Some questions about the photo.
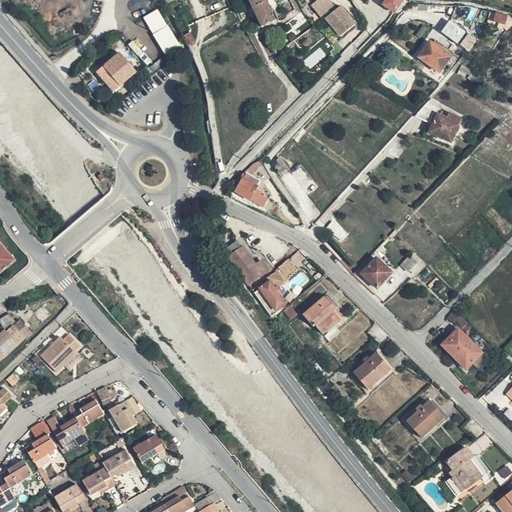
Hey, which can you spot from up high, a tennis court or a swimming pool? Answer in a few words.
swimming pool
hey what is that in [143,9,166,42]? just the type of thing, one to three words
building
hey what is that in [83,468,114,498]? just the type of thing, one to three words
house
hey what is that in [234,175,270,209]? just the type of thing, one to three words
house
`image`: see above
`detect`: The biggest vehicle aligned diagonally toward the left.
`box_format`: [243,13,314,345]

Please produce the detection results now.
[129,40,150,64]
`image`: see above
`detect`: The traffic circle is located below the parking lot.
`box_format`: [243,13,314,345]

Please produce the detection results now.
[134,154,172,191]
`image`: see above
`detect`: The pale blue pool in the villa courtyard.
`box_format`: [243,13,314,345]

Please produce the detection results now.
[290,272,308,290]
